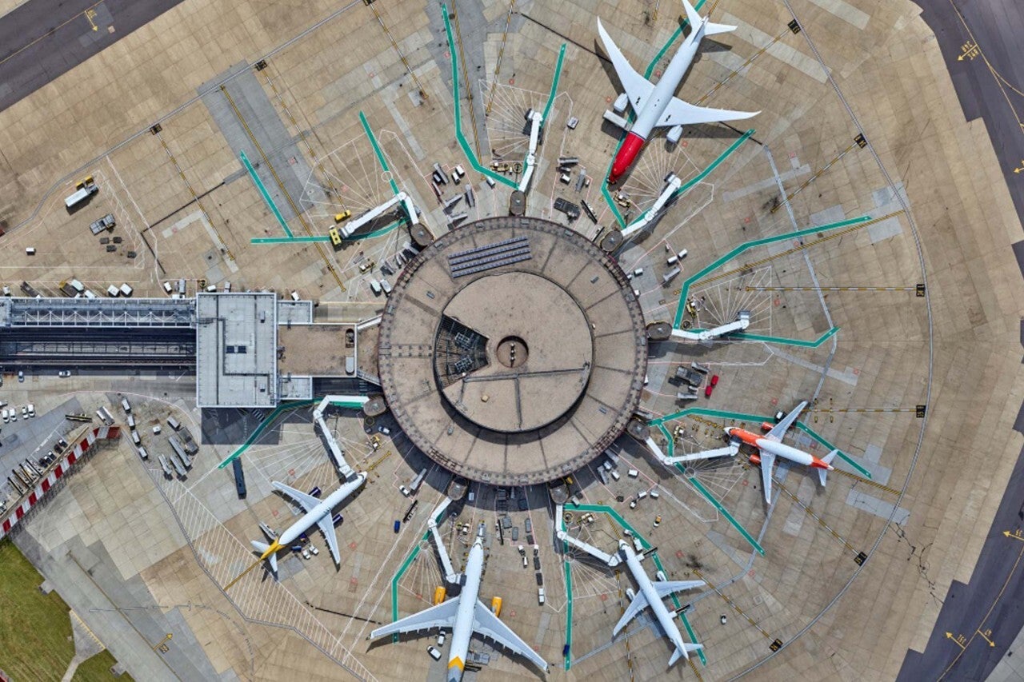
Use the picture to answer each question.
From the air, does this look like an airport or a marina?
airport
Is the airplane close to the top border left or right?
right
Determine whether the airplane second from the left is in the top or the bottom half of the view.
bottom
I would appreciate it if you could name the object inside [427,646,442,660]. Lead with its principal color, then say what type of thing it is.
white vehicle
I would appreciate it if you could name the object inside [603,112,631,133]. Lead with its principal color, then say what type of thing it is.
white truck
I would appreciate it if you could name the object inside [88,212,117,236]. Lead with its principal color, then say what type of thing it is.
gray work vehicle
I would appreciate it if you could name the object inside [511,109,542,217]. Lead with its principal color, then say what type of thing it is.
white jet bridge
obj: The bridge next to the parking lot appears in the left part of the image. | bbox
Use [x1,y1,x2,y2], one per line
[0,328,196,365]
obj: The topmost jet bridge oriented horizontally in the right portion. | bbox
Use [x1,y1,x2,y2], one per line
[645,309,751,342]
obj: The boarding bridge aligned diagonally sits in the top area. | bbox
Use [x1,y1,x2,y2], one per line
[599,168,683,254]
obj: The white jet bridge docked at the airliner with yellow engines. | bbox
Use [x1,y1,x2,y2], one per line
[428,476,469,588]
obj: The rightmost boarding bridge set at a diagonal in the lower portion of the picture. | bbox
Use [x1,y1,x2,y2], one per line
[549,476,628,567]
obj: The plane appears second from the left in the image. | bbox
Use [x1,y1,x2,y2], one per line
[372,538,547,682]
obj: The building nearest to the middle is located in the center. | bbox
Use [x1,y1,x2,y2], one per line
[378,217,647,485]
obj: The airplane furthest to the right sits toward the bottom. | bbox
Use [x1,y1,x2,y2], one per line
[725,403,840,506]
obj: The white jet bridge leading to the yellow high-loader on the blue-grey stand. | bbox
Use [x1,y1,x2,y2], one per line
[336,190,434,249]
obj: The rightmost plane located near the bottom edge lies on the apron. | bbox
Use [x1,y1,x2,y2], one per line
[615,540,706,669]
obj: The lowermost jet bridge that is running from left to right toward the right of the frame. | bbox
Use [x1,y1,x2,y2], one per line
[625,419,743,467]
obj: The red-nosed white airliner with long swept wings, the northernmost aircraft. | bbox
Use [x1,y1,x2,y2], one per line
[600,0,760,183]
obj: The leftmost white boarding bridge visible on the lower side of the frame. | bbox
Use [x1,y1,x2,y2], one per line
[312,393,388,486]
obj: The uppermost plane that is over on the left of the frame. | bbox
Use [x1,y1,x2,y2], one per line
[249,473,366,572]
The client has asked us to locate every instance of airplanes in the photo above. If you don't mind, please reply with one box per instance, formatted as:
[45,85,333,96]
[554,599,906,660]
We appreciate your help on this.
[372,538,547,682]
[615,540,706,669]
[725,403,840,506]
[600,0,760,183]
[249,473,366,572]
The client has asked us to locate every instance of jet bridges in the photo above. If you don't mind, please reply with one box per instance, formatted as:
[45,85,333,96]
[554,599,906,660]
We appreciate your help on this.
[428,476,469,588]
[511,109,542,217]
[336,190,434,249]
[312,393,388,486]
[625,419,743,467]
[599,168,683,254]
[549,476,628,567]
[645,309,751,342]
